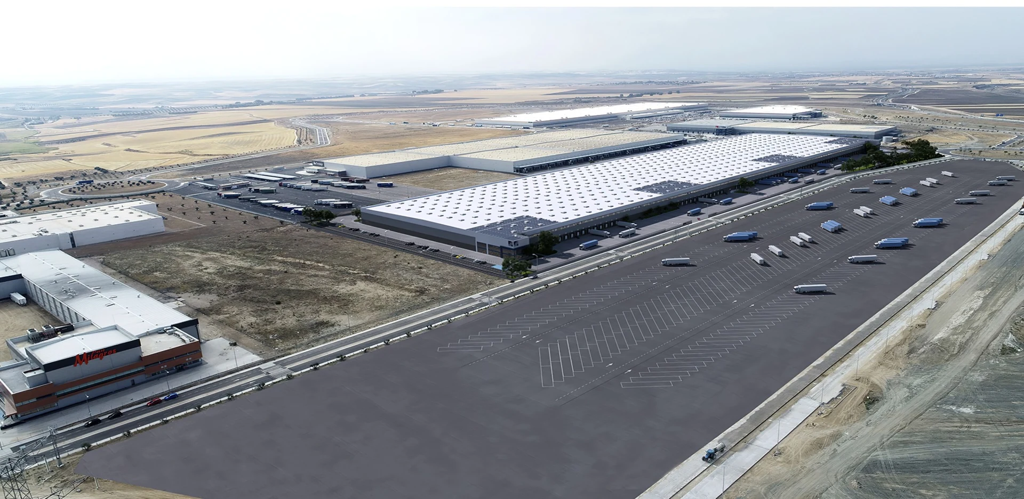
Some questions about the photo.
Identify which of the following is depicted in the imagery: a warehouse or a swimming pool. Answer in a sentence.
The one in the frame is a warehouse.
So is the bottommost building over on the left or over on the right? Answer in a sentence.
It is on the left.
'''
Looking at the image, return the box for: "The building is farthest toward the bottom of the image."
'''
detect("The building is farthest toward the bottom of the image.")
[0,250,202,432]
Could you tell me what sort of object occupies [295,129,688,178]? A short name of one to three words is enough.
building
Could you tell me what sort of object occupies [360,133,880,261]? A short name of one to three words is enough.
warehouse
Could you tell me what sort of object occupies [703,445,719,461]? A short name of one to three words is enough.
work vehicle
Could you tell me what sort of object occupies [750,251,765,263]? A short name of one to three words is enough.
vehicle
